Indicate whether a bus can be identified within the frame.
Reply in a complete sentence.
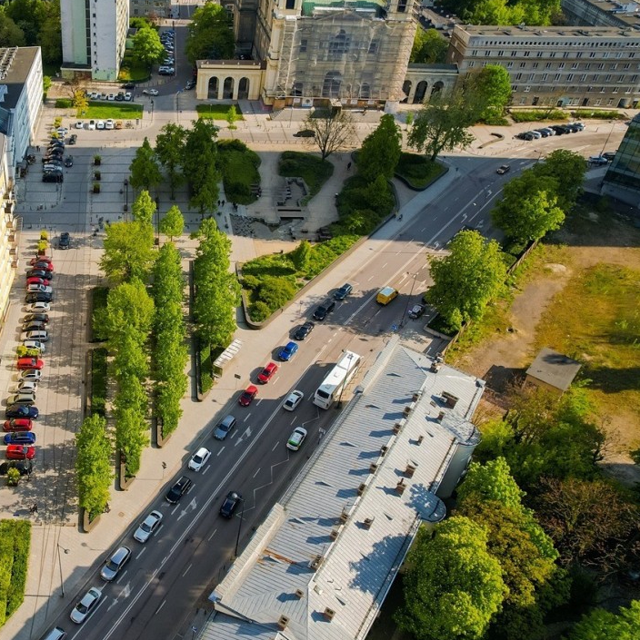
Yes, a bus appears in the view.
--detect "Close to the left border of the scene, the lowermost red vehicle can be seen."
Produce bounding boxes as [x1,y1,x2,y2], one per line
[5,445,36,460]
